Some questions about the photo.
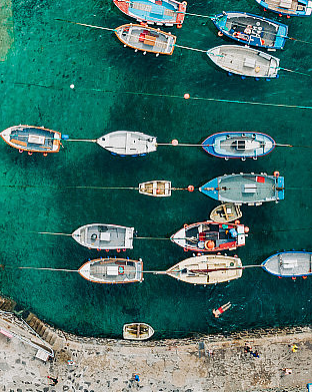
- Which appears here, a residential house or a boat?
boat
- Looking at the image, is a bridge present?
No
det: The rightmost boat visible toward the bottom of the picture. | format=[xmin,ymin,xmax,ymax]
[262,249,312,280]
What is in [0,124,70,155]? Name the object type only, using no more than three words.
boat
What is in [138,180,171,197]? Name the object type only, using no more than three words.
boat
